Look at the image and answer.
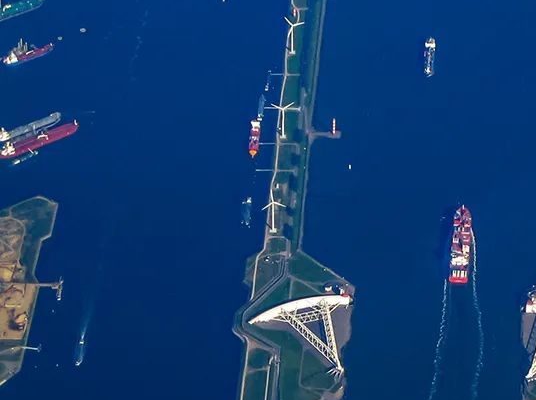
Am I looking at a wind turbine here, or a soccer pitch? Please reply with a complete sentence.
Looking from above, you can make out a wind turbine.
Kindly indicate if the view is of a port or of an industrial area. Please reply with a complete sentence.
This looks like a port.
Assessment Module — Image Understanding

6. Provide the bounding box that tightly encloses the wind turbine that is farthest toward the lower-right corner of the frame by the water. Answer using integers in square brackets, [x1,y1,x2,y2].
[262,194,287,232]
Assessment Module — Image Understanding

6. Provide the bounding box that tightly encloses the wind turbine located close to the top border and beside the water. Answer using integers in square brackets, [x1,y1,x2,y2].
[285,19,307,54]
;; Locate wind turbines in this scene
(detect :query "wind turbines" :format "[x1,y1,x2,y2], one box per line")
[272,105,295,139]
[285,19,307,54]
[262,194,287,232]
